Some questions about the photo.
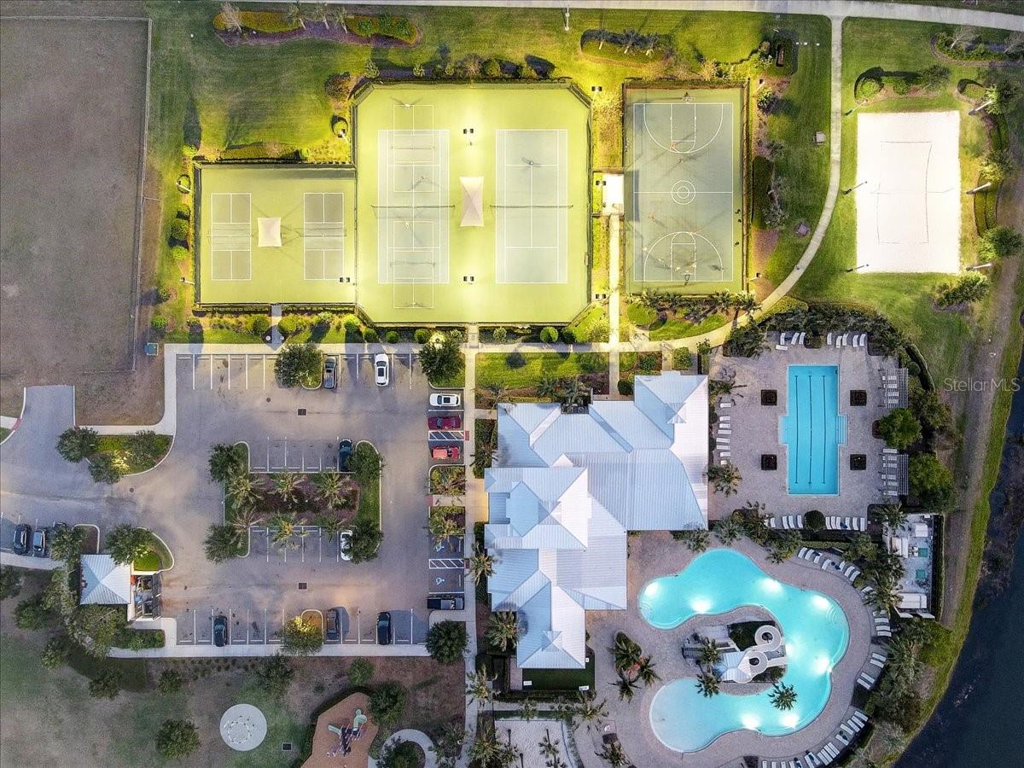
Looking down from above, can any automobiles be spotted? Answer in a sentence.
Yes, the image includes an automobile.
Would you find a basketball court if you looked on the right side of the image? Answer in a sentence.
Yes, a basketball court can be seen on the right side of the image.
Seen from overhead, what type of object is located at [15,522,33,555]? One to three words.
car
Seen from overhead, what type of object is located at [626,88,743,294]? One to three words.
basketball court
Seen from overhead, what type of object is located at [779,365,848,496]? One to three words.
swimming pool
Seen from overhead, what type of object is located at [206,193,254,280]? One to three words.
sports court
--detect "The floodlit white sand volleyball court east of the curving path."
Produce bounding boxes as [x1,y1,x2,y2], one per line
[856,111,960,273]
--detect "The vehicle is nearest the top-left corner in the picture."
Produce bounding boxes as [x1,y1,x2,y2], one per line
[323,356,338,388]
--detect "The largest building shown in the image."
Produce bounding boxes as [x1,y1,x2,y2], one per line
[485,375,708,669]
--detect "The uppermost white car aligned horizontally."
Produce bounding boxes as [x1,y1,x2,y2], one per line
[429,392,460,407]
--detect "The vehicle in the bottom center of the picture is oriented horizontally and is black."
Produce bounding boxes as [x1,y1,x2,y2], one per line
[427,594,464,611]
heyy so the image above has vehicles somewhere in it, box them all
[429,415,460,430]
[212,614,229,646]
[339,529,353,561]
[374,354,388,385]
[15,522,33,555]
[32,526,51,559]
[376,612,391,644]
[326,607,341,639]
[427,594,464,611]
[338,440,353,471]
[323,356,338,388]
[429,392,460,407]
